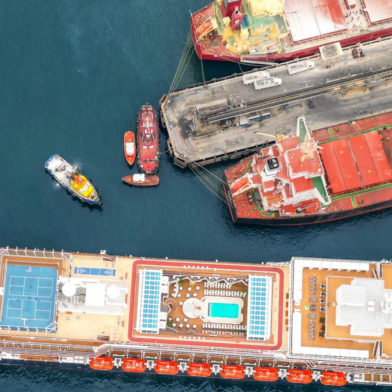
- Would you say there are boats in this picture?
Yes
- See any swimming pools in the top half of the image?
No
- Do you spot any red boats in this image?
Yes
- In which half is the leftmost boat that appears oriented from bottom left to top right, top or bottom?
top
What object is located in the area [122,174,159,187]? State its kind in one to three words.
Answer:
boat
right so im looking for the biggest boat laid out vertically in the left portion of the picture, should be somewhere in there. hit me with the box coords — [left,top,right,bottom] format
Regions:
[134,101,162,177]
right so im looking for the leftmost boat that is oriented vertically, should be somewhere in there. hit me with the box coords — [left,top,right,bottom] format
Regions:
[123,131,135,166]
